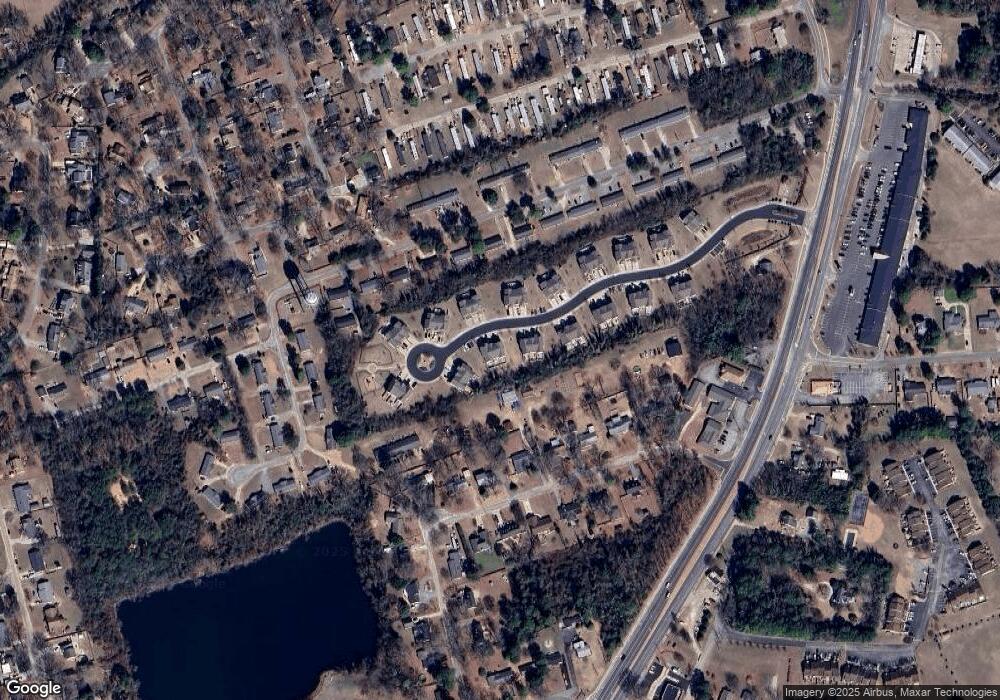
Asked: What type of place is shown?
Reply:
residential area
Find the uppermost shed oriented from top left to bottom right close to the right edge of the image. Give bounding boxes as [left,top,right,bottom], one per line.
[943,127,995,180]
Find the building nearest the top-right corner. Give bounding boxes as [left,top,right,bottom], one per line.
[913,35,926,73]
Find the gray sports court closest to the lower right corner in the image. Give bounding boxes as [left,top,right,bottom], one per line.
[849,493,869,525]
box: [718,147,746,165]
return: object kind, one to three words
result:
building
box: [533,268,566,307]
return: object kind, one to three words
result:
house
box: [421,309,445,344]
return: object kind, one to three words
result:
house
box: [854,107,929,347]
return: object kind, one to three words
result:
building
